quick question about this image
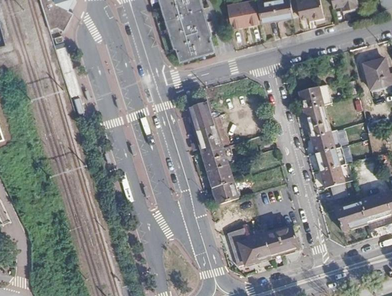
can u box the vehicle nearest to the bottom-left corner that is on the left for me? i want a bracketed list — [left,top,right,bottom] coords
[120,176,134,202]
